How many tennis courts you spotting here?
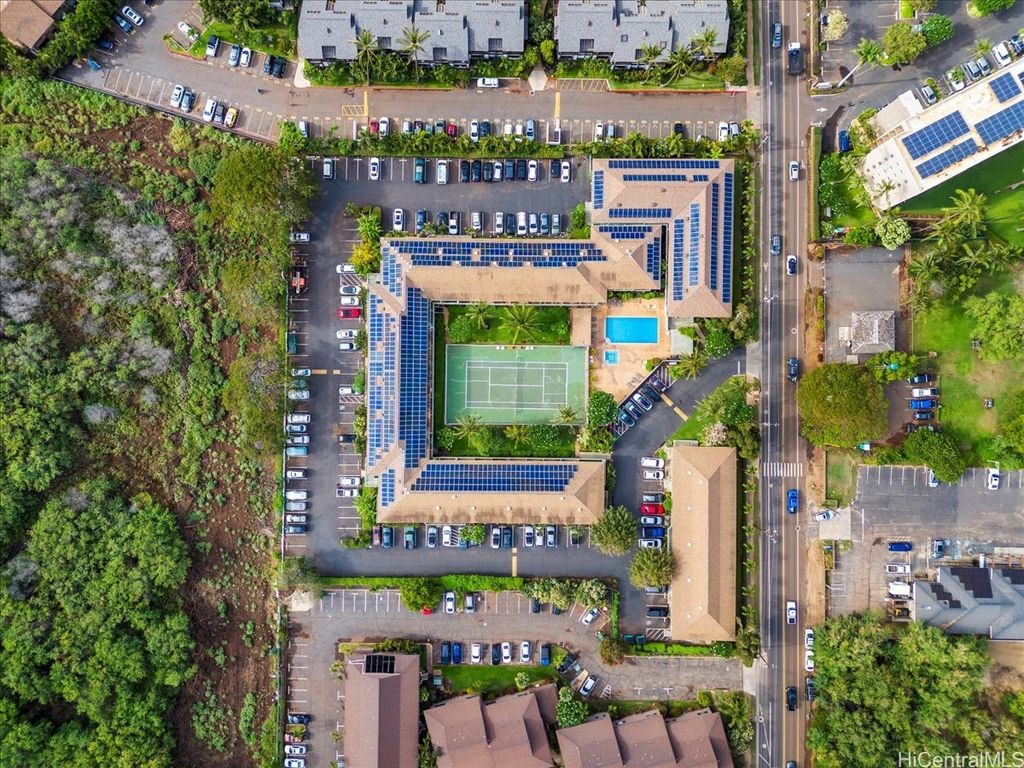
1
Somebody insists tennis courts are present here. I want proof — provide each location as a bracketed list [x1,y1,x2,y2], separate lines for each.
[443,344,589,426]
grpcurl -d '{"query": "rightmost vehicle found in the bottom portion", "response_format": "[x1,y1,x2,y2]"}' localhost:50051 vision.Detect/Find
[987,469,999,489]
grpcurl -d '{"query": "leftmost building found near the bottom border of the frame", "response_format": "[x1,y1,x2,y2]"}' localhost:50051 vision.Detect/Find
[344,649,421,768]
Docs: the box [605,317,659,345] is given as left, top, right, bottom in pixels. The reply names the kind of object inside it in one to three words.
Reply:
swimming pool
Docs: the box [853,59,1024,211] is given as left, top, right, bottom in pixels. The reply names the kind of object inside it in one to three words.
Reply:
building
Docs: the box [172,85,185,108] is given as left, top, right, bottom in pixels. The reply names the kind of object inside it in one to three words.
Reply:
vehicle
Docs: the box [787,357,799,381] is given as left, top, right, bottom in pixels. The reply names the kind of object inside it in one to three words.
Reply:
vehicle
